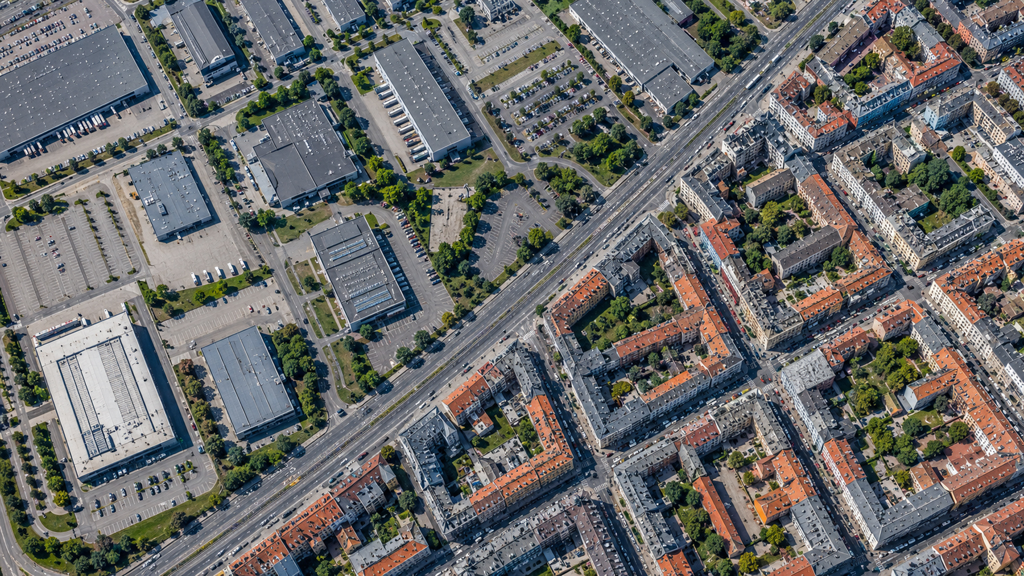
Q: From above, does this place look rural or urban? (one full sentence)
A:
It looks urban.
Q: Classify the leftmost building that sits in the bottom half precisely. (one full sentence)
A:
I'd identify the leftmost building that sits in the bottom half as a warehouse.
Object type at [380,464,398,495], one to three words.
house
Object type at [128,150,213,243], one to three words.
building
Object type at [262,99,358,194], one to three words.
building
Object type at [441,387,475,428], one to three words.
house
